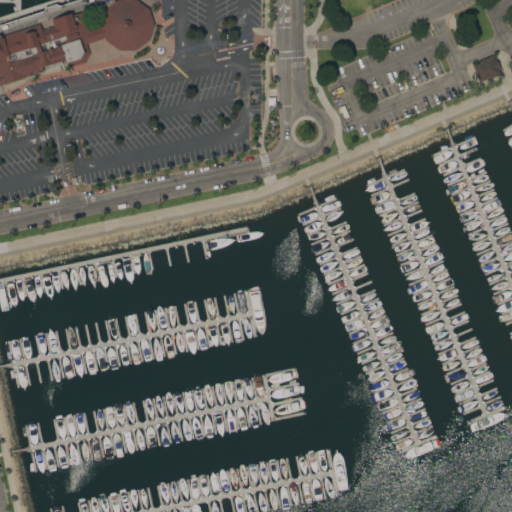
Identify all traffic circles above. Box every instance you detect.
[282,106,331,156]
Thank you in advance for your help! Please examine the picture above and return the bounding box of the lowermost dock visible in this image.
[48,449,338,512]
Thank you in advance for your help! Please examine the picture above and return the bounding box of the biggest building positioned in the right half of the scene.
[474,54,504,87]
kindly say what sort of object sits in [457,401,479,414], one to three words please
boat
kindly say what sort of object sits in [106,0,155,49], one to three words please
building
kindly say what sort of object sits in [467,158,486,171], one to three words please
boat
